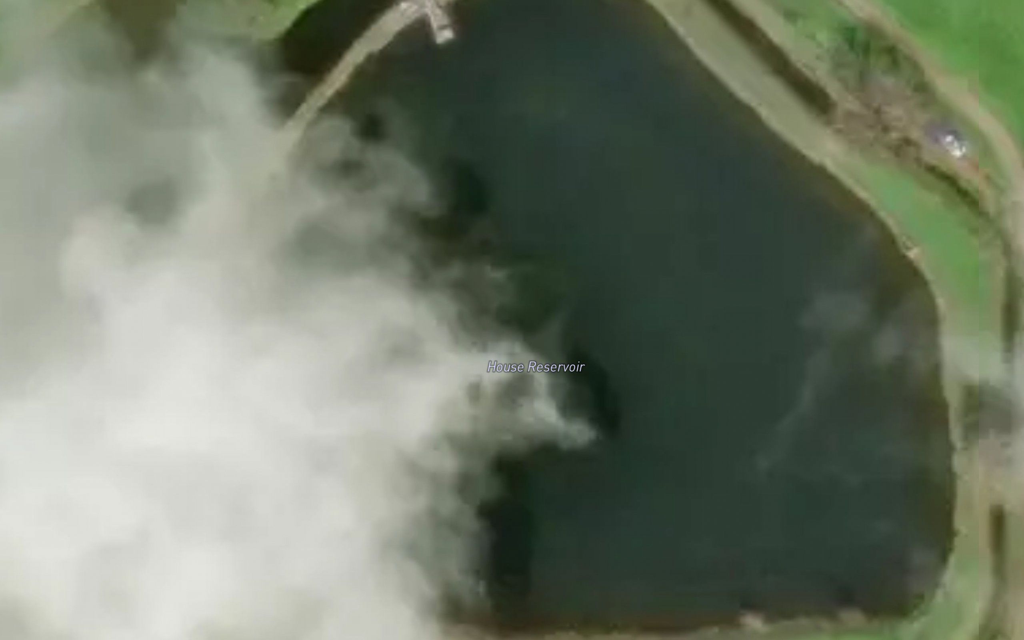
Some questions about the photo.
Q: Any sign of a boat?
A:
No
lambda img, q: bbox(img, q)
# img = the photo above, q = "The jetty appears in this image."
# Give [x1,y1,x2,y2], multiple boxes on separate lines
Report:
[427,0,453,42]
